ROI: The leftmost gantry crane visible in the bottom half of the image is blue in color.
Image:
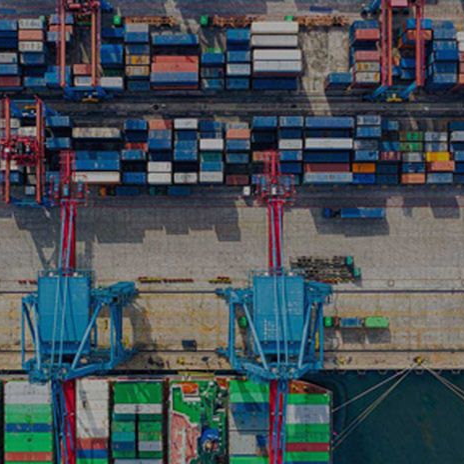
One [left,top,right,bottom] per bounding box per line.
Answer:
[19,148,136,464]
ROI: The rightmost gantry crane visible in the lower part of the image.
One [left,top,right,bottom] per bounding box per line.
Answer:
[216,148,332,464]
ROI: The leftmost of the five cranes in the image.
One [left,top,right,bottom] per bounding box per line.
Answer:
[1,96,62,209]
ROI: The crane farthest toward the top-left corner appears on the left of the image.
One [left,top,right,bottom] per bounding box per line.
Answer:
[54,0,113,101]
